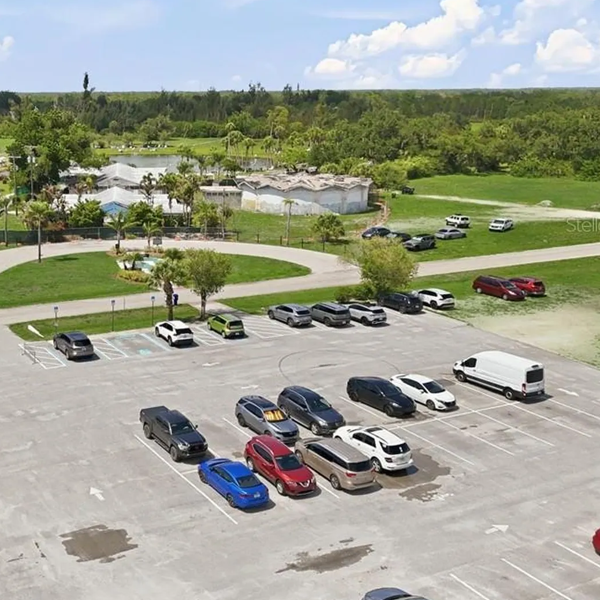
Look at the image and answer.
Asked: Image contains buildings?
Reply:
Yes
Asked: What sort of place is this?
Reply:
parking lot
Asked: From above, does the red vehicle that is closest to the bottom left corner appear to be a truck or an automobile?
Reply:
automobile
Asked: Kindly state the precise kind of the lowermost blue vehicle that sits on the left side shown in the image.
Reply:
car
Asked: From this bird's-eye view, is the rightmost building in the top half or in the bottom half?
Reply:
top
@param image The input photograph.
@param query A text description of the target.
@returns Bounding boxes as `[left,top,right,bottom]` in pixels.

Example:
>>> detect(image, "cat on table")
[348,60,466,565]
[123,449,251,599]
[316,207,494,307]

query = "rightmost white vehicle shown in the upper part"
[490,216,512,232]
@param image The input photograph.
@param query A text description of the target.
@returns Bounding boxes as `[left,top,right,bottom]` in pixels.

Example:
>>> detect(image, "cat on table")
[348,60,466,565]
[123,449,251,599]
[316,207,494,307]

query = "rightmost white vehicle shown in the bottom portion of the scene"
[451,347,546,401]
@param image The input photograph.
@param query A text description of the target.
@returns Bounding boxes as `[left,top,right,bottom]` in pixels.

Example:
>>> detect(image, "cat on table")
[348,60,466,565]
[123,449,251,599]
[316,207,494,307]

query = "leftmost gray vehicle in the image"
[53,331,93,361]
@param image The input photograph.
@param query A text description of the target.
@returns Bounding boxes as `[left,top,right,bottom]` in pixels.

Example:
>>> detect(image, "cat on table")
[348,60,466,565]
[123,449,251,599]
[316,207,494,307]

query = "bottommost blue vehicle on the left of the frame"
[197,458,272,511]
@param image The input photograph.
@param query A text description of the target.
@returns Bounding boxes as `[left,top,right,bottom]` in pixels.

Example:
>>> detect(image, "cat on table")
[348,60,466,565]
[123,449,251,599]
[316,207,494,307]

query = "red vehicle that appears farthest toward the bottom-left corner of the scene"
[243,436,318,496]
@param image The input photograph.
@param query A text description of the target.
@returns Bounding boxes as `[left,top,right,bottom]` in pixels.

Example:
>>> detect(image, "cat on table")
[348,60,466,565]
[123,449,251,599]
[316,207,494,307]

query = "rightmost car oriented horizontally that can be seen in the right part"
[504,275,551,296]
